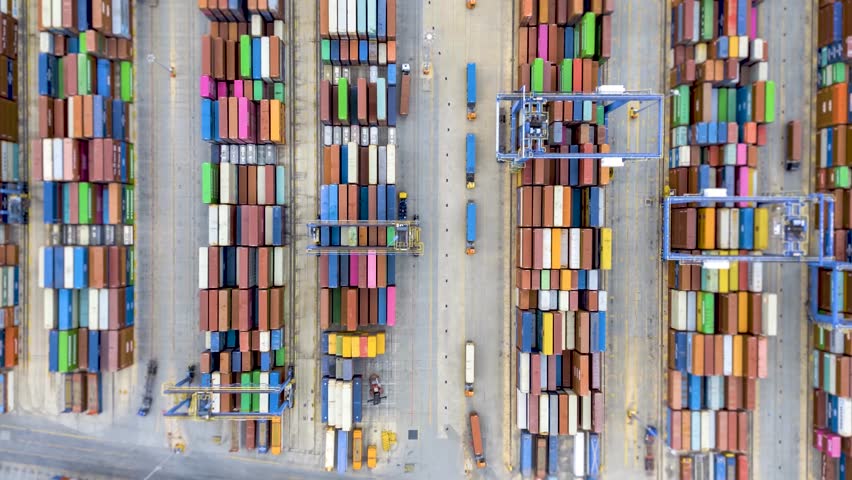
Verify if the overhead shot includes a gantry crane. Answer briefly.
Yes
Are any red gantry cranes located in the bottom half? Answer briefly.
No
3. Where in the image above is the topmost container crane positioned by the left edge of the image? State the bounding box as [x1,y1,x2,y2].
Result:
[0,181,27,221]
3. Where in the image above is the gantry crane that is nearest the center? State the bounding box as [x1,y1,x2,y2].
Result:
[305,217,426,257]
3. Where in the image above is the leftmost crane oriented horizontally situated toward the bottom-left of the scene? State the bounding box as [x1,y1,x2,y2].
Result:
[159,365,295,418]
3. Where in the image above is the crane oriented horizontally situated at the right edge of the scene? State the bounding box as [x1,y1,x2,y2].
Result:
[660,186,832,270]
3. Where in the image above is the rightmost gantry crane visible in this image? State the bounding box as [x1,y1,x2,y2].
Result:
[808,250,852,326]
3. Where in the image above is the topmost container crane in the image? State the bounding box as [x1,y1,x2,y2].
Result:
[495,82,662,175]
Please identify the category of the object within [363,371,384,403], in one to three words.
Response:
vehicle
